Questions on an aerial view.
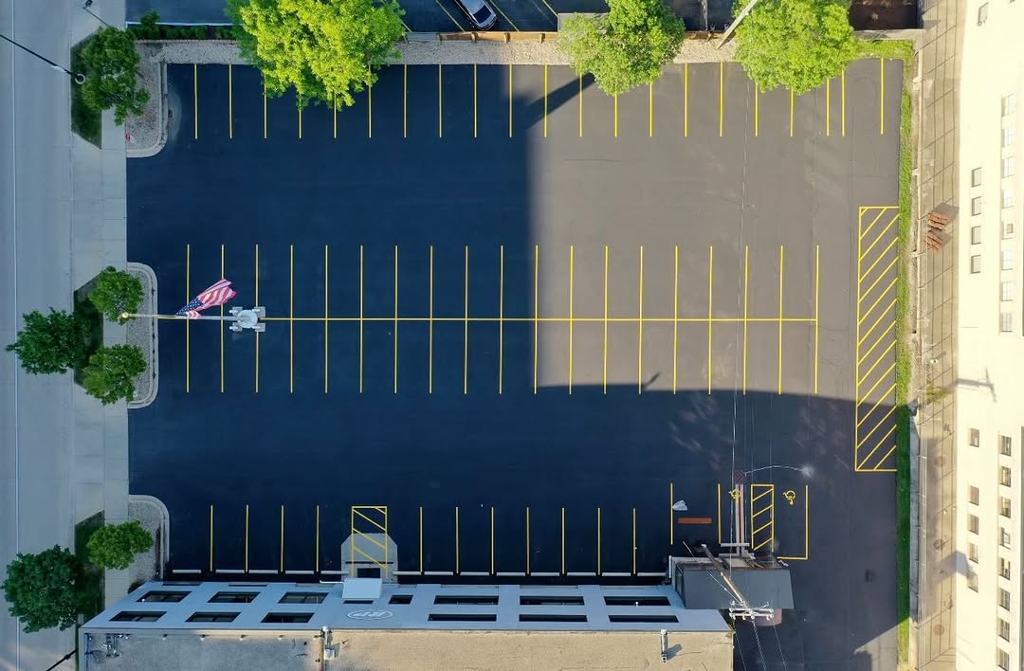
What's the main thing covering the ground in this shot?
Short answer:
paved ground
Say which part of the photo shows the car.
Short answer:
top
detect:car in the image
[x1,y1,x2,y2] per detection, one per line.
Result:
[456,0,497,27]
